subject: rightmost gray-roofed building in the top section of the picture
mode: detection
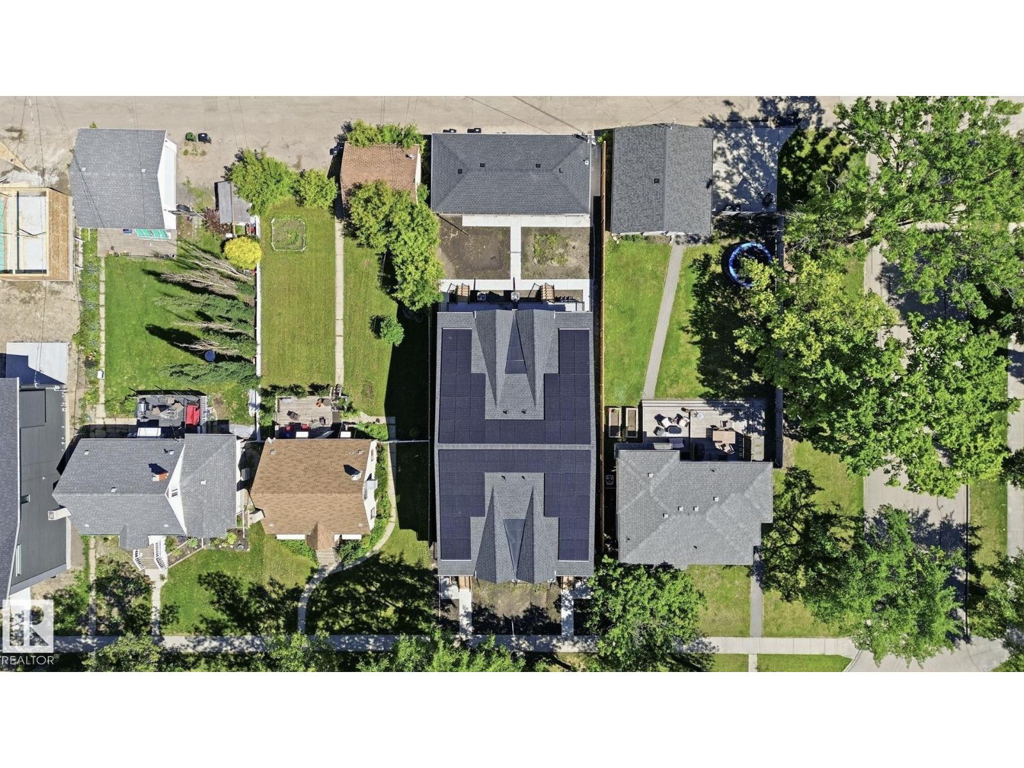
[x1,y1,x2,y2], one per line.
[610,119,714,238]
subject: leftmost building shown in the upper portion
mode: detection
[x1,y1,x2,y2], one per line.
[0,186,69,275]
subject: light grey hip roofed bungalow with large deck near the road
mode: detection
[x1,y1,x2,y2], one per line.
[617,443,773,573]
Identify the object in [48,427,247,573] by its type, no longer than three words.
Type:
house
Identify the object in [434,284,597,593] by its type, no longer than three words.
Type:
house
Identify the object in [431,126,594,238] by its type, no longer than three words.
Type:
building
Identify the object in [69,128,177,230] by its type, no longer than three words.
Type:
building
